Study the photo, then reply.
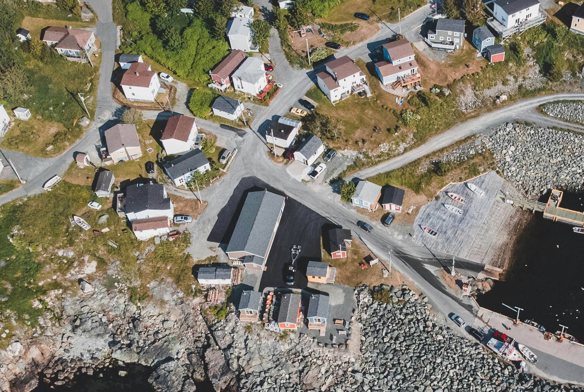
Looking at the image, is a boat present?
Yes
